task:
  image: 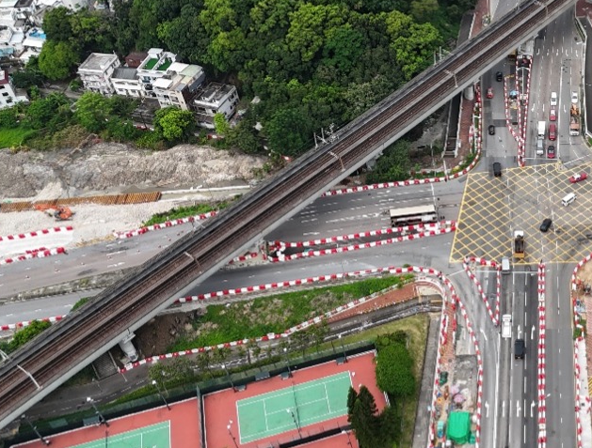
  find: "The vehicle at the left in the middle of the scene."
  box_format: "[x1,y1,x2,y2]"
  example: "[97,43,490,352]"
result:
[43,193,75,218]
